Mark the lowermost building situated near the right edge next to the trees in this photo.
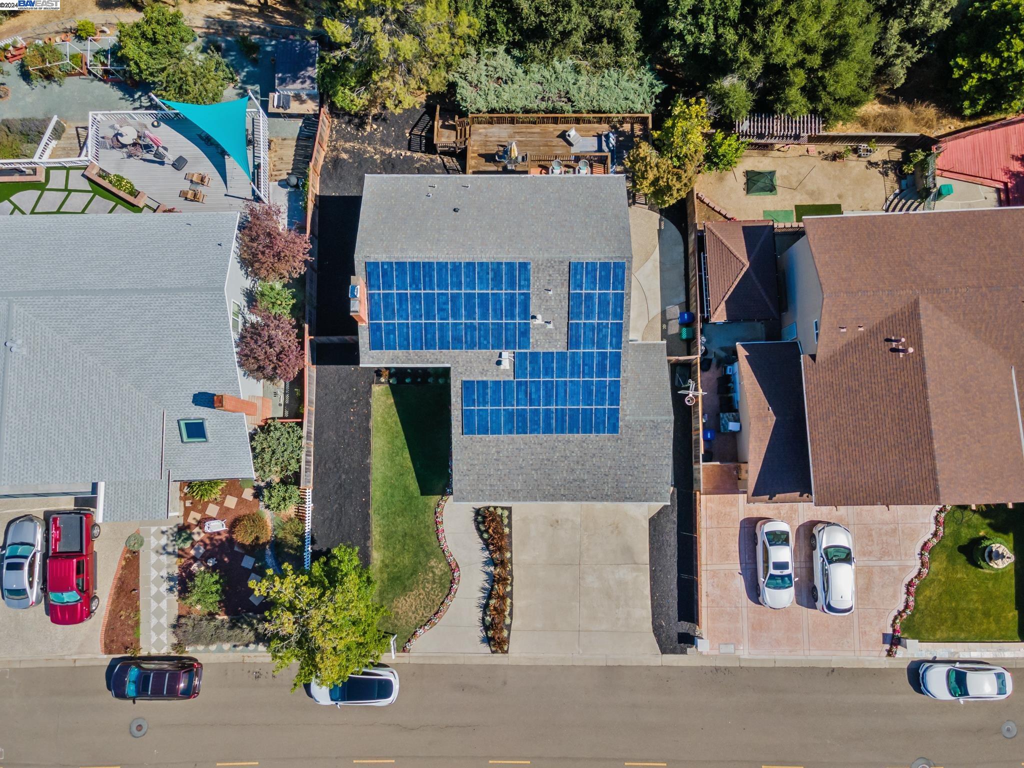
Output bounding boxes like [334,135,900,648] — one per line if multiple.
[737,213,1024,509]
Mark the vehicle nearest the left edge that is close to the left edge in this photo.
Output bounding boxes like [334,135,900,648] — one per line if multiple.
[0,513,52,610]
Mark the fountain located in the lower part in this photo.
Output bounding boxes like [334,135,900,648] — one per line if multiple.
[972,536,1018,575]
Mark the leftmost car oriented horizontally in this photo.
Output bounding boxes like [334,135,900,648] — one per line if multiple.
[110,658,207,706]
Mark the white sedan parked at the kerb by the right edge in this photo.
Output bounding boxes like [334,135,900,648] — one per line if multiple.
[915,659,1015,706]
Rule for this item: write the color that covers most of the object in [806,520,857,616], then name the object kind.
white car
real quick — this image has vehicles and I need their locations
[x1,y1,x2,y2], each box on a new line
[310,662,404,712]
[110,658,207,706]
[915,659,1015,706]
[44,508,103,622]
[0,513,52,610]
[806,520,857,616]
[750,518,798,611]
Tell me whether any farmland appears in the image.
No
